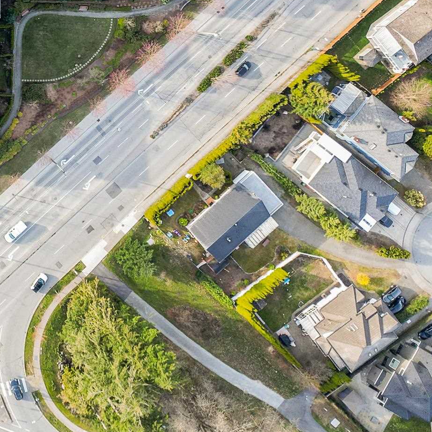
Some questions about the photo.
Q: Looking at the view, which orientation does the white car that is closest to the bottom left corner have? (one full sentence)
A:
The white car that is closest to the bottom left corner has been laid out at an angle relative to the frame.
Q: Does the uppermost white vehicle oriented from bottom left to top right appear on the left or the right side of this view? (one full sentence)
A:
The uppermost white vehicle oriented from bottom left to top right is on the left side of the image.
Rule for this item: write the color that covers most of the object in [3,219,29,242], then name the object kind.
white vehicle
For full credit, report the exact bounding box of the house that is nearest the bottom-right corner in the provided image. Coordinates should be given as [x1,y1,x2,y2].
[361,328,432,420]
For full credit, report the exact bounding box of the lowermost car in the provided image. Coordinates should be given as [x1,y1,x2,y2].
[10,377,23,400]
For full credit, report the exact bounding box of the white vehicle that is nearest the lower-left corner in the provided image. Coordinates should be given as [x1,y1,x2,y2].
[29,272,49,293]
